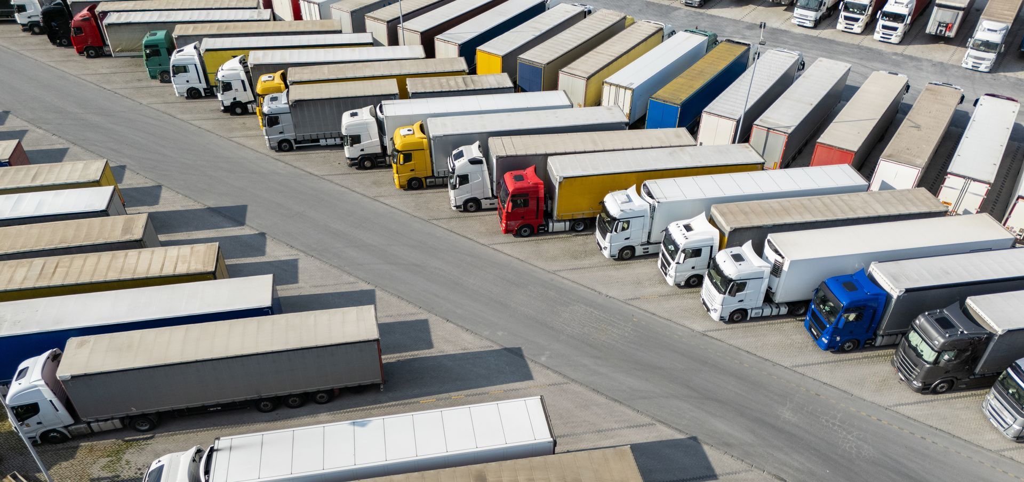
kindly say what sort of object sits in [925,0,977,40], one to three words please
trailer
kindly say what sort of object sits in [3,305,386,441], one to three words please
truck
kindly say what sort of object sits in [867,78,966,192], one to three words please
truck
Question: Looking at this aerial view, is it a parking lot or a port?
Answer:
parking lot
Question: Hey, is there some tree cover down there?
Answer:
No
